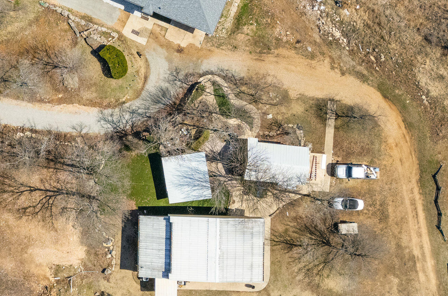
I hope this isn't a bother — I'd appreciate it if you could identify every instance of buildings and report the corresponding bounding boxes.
[125,0,228,36]
[137,212,266,283]
[243,138,310,189]
[162,152,211,203]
